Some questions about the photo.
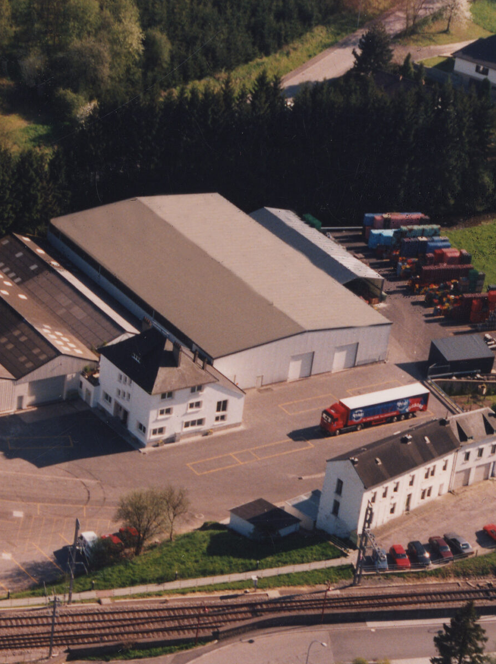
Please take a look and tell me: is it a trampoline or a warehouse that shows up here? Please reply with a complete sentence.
I can see a warehouse in this picture.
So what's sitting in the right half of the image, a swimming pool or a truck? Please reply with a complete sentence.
What appears in the right half of the image is a truck.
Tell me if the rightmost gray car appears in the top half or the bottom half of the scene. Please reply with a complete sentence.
Seen from above, the rightmost gray car lies in the bottom half of the view.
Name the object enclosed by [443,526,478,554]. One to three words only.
car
